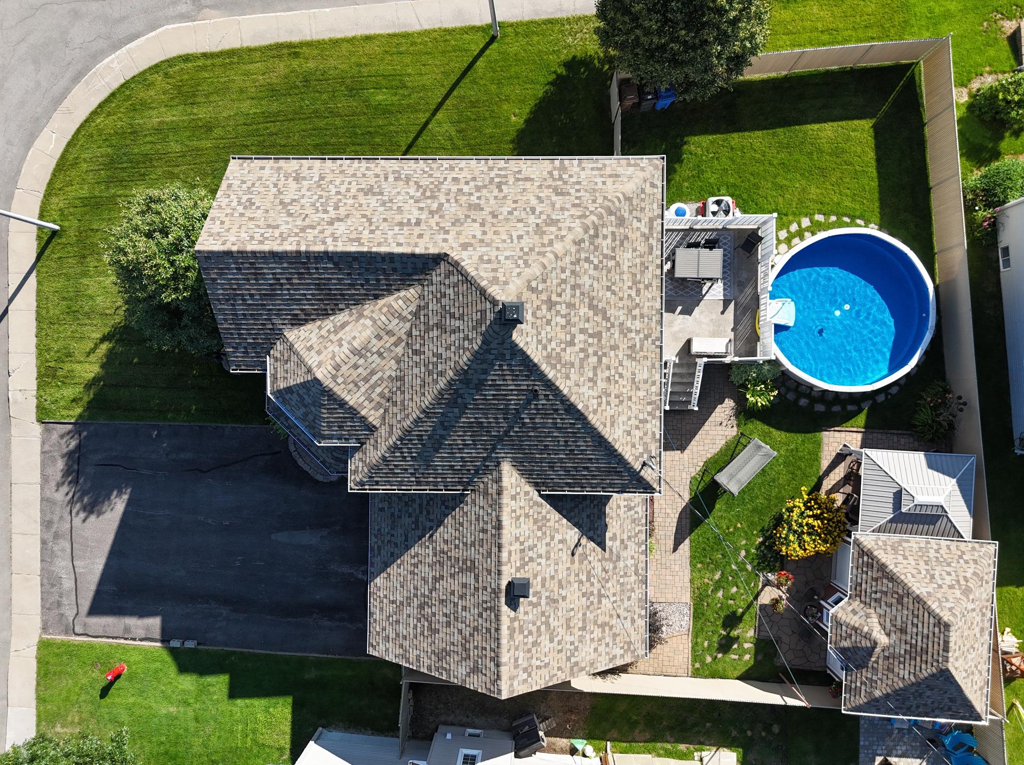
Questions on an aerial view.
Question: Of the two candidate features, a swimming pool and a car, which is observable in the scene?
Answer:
swimming pool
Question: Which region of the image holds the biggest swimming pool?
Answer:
right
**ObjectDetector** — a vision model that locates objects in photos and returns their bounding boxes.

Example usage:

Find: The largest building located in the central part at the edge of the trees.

[197,152,670,701]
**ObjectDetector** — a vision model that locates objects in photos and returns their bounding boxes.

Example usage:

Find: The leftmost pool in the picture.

[764,225,938,394]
